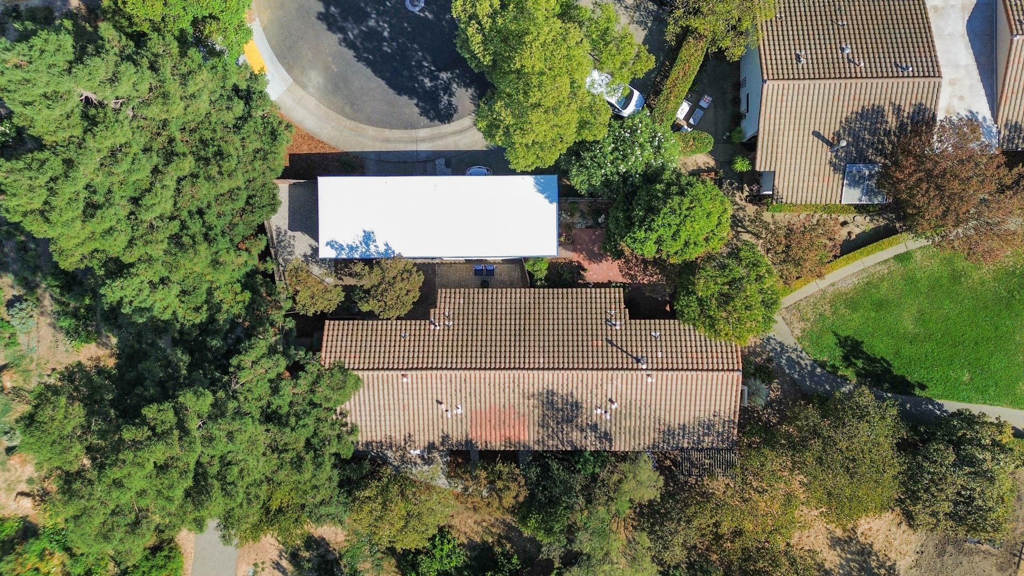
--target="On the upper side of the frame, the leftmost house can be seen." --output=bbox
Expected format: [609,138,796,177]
[317,174,559,262]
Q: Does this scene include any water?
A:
No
